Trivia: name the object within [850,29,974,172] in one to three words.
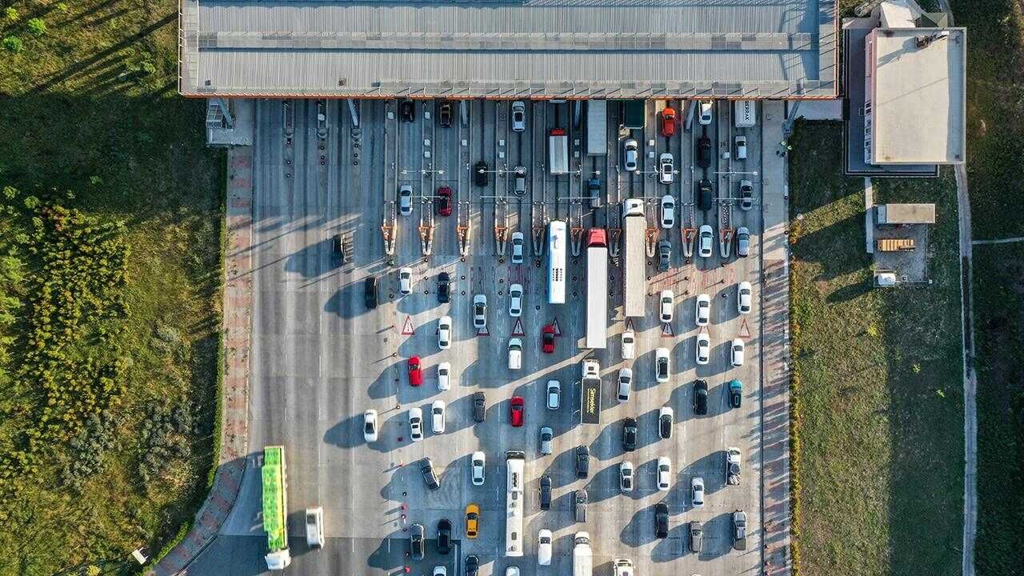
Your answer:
building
